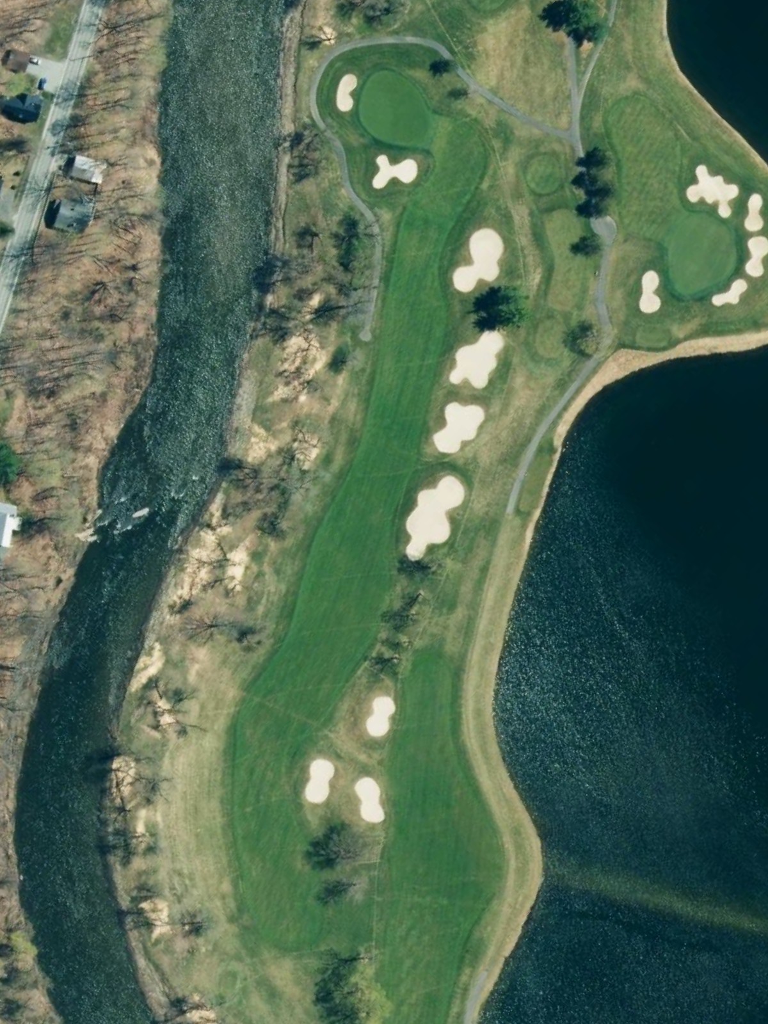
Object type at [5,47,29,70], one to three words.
house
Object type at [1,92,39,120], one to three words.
house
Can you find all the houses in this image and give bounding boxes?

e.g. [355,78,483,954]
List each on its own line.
[57,197,91,228]
[5,47,29,70]
[67,151,100,179]
[1,92,39,120]
[0,504,21,550]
